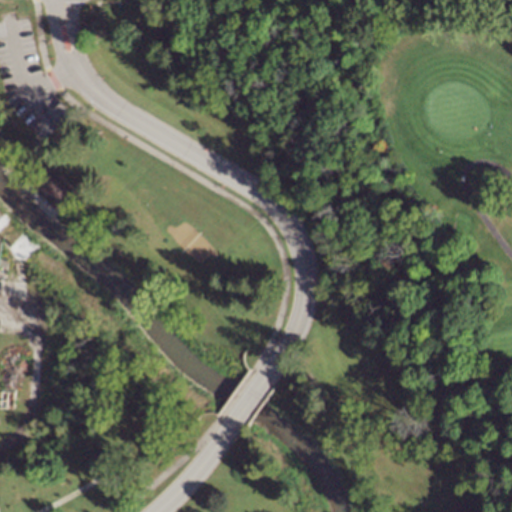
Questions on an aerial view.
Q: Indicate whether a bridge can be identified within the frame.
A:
Yes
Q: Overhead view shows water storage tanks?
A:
No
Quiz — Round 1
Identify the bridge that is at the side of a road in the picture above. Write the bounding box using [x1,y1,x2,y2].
[200,350,278,432]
